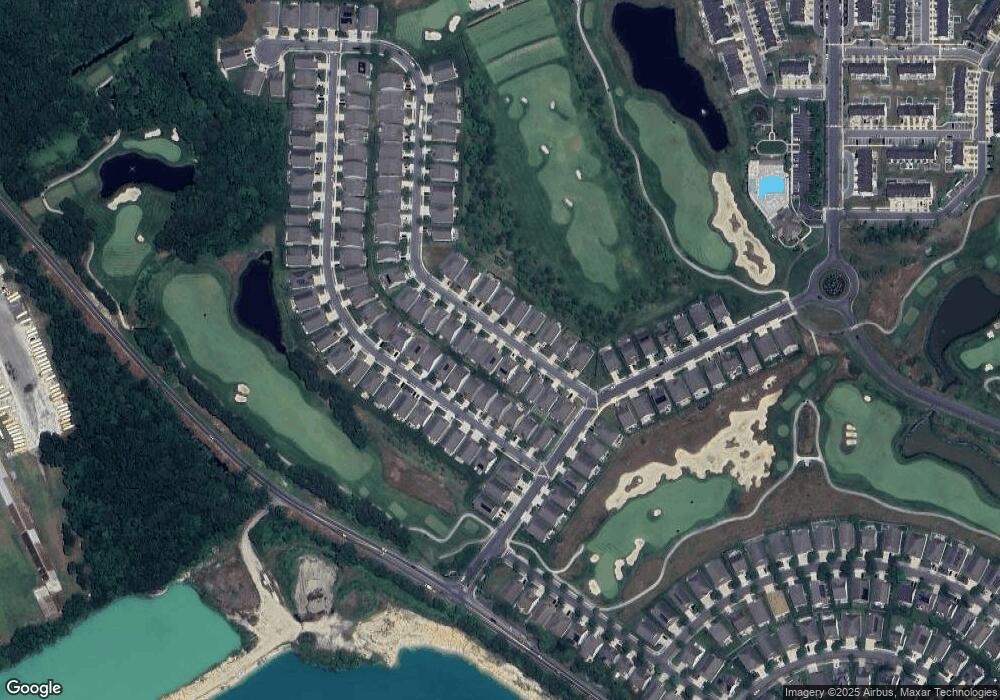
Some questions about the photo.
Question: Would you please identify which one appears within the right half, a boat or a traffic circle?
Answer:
traffic circle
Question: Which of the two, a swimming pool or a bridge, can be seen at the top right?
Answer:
swimming pool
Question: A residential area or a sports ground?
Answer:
residential area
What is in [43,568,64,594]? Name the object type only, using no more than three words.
barn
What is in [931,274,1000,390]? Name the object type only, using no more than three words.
pond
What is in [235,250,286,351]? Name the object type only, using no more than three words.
pond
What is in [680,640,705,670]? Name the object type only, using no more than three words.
house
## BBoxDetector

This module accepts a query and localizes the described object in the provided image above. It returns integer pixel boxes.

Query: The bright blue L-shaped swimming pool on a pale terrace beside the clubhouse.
[748,160,789,218]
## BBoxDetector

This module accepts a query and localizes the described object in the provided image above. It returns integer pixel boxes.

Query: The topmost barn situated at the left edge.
[0,463,54,575]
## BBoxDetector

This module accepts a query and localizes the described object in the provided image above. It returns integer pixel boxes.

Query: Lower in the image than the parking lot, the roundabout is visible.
[807,259,858,309]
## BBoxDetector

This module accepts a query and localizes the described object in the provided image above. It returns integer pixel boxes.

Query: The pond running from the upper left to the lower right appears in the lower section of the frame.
[902,413,1000,502]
